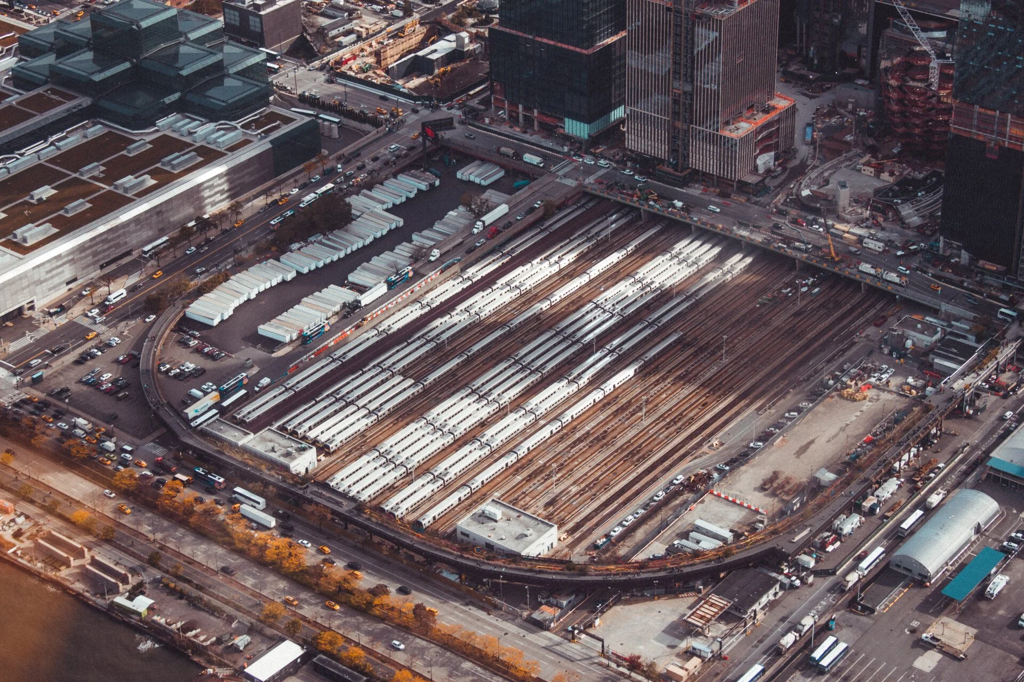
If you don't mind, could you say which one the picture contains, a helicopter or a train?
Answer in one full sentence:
There is a train in the scene.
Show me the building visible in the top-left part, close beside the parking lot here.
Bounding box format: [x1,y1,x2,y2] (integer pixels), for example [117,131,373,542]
[0,0,311,333]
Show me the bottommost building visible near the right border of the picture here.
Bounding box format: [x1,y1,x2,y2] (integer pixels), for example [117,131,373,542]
[890,485,1005,584]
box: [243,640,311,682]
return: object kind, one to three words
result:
building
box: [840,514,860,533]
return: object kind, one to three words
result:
vehicle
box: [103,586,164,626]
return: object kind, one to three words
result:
shed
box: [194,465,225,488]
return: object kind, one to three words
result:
bus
